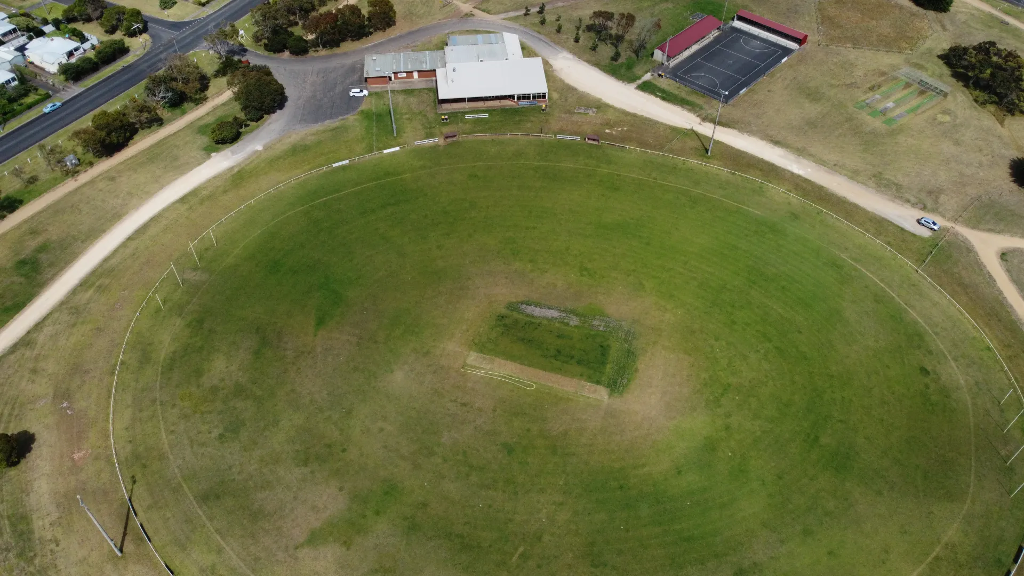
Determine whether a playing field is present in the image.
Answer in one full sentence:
Yes, a playing field is visible in the scene.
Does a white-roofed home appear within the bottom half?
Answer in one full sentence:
No, the scene shows no white-roofed home within the bottom half.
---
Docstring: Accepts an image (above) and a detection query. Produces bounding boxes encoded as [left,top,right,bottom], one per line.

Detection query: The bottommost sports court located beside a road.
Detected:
[662,25,795,101]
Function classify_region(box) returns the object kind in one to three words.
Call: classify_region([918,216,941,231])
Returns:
car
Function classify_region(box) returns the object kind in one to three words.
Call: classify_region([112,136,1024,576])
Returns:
sports field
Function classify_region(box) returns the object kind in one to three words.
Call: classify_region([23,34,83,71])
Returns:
house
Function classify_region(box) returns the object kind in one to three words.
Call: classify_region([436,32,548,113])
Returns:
building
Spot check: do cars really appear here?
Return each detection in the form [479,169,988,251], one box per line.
[349,89,368,97]
[918,216,941,231]
[42,103,62,113]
